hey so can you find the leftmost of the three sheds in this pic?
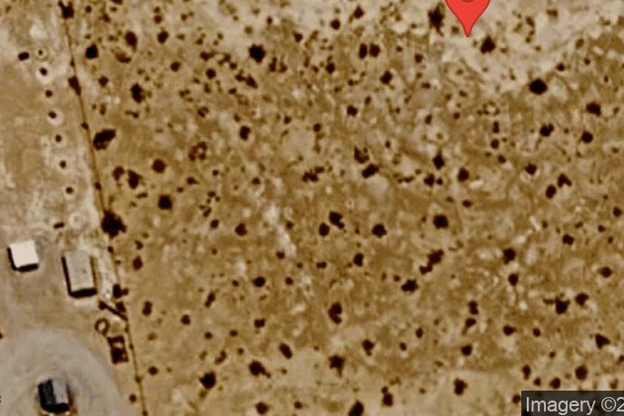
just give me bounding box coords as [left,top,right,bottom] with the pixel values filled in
[8,240,39,269]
